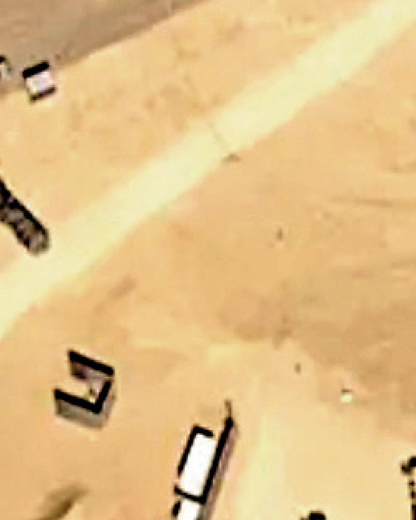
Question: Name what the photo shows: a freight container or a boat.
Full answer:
Looking from above, you can make out a freight container.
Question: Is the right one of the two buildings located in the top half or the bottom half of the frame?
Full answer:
You can find the right one of the two buildings in the bottom half.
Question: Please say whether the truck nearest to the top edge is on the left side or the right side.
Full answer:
It is on the left.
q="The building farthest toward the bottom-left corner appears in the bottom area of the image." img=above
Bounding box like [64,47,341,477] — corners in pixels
[56,360,116,427]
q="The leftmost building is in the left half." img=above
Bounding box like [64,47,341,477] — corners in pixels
[27,73,56,100]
